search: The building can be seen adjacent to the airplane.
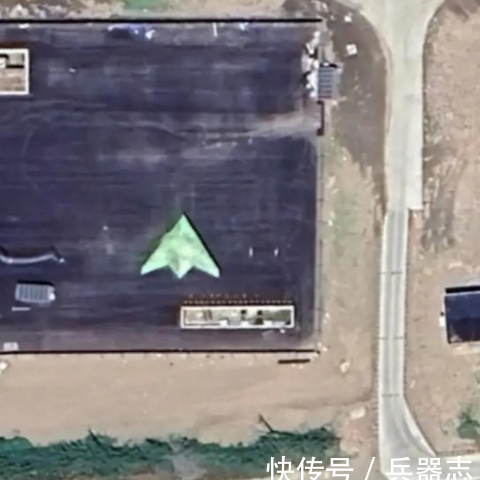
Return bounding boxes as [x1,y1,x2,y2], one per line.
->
[181,306,297,330]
